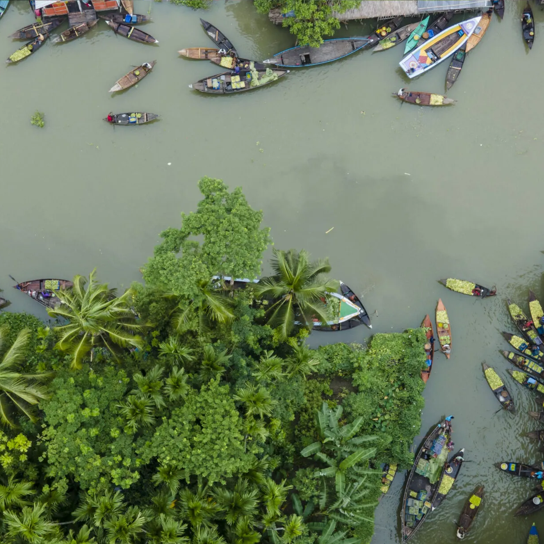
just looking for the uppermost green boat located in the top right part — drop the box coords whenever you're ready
[403,14,431,56]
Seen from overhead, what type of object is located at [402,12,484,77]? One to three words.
boat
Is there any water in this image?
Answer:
Yes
